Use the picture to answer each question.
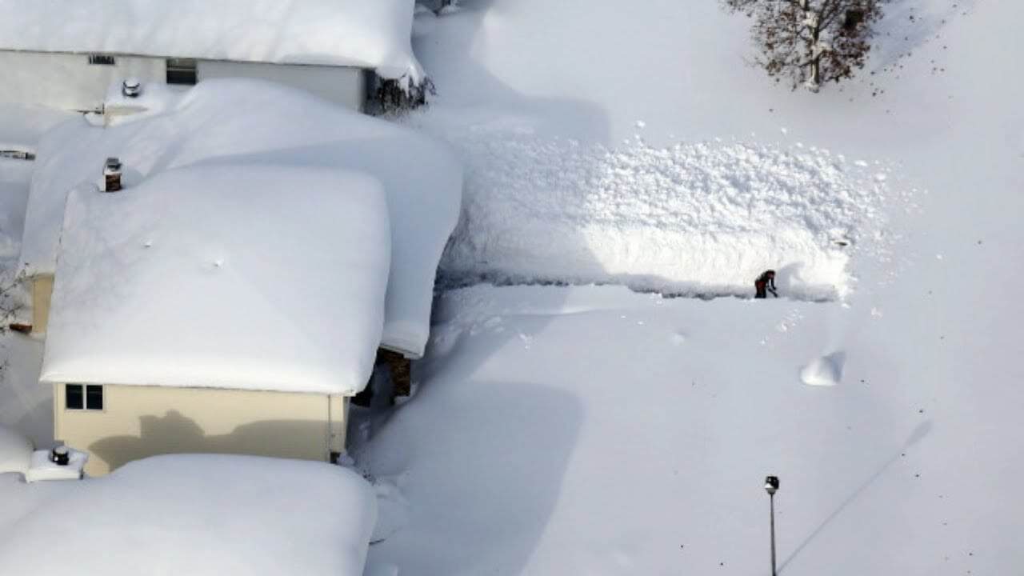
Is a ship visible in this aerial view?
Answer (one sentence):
No, the picture doesn't show any ship.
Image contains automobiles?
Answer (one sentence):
No, the frame has no automobile in it.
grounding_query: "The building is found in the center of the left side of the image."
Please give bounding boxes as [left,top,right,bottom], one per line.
[12,79,468,473]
